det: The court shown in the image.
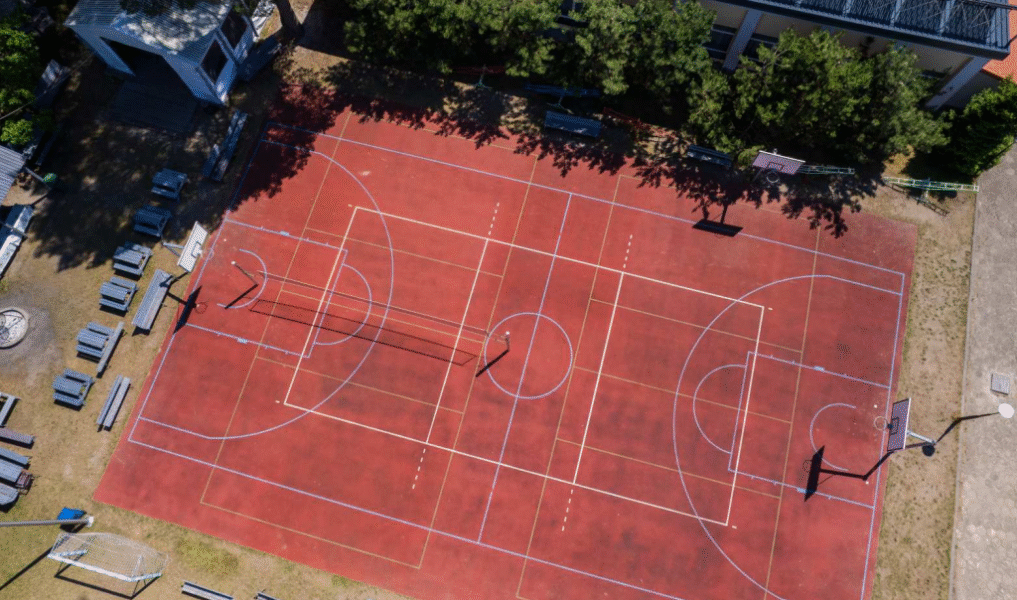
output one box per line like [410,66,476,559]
[91,76,918,600]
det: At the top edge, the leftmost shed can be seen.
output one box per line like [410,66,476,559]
[62,0,267,99]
